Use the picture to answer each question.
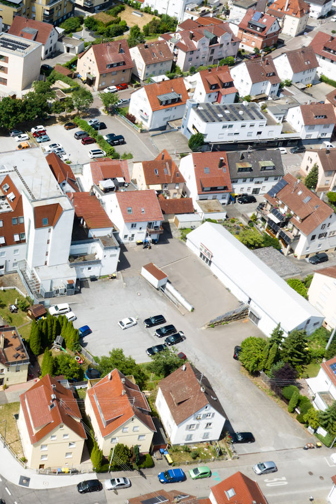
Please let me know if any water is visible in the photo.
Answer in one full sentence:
No, there is no water in the image.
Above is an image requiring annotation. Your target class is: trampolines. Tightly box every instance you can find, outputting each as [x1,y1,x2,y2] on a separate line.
[83,361,103,380]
